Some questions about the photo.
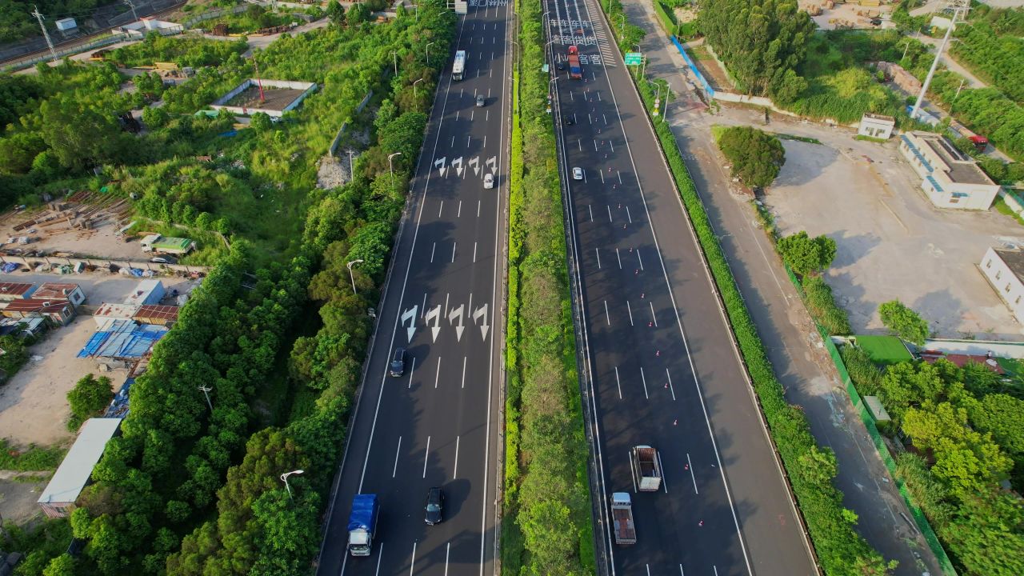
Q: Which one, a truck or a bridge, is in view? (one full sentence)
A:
Of the two, only a truck appears.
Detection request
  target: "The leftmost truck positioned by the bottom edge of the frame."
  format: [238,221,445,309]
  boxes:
[350,489,382,552]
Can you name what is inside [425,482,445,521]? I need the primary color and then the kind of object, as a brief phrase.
black car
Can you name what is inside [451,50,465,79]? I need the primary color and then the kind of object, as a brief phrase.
white vehicle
